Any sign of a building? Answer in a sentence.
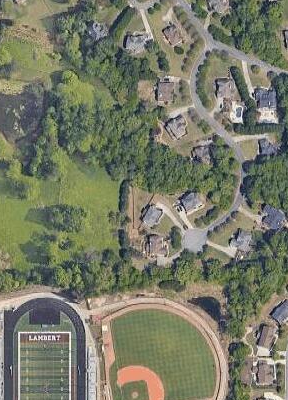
Yes, a building can be made out from above.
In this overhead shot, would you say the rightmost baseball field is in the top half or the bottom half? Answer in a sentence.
It is in the bottom half that the rightmost baseball field appears.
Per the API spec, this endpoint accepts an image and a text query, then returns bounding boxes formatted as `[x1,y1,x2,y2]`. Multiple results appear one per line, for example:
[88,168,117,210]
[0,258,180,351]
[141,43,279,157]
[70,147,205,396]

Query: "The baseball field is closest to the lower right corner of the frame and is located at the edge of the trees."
[103,303,221,400]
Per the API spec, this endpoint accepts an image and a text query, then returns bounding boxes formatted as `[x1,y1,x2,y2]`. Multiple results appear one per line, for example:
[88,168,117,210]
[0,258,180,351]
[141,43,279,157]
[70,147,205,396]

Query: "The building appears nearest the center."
[140,204,164,227]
